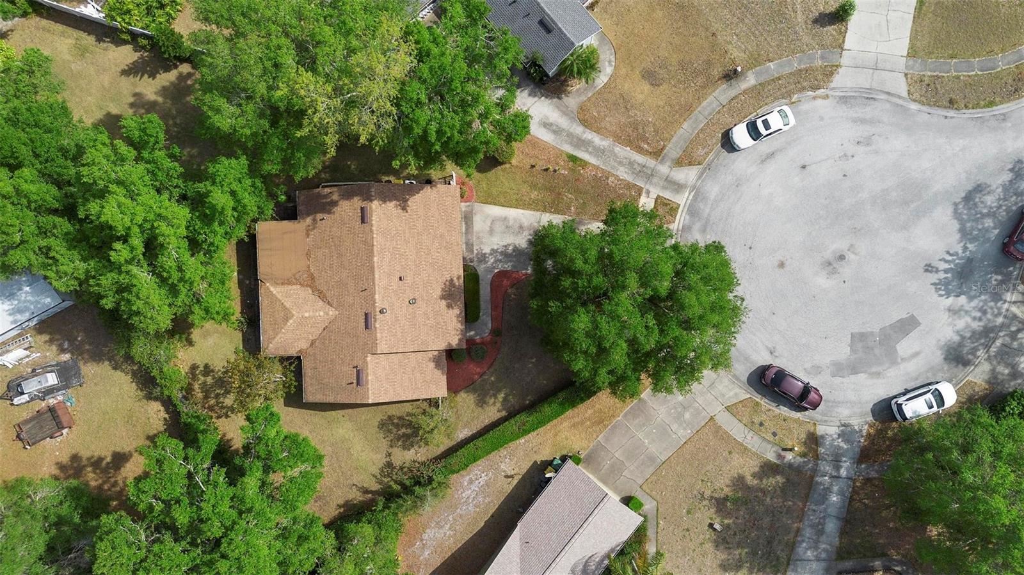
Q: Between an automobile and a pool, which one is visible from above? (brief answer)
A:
automobile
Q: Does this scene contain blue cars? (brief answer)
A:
No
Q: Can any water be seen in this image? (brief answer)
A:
No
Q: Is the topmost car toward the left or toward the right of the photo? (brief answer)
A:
right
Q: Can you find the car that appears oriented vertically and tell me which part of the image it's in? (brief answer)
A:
right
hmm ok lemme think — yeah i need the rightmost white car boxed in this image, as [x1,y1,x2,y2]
[890,381,955,423]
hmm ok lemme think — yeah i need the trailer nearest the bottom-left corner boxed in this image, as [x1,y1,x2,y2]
[9,401,74,447]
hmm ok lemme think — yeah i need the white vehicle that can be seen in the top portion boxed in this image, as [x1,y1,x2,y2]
[729,106,796,152]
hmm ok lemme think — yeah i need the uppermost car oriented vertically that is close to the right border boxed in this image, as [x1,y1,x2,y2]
[1000,204,1024,260]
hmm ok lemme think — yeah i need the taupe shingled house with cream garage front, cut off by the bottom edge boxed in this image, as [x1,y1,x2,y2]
[466,458,645,575]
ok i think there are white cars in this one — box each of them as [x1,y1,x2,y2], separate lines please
[890,381,955,423]
[729,106,796,152]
